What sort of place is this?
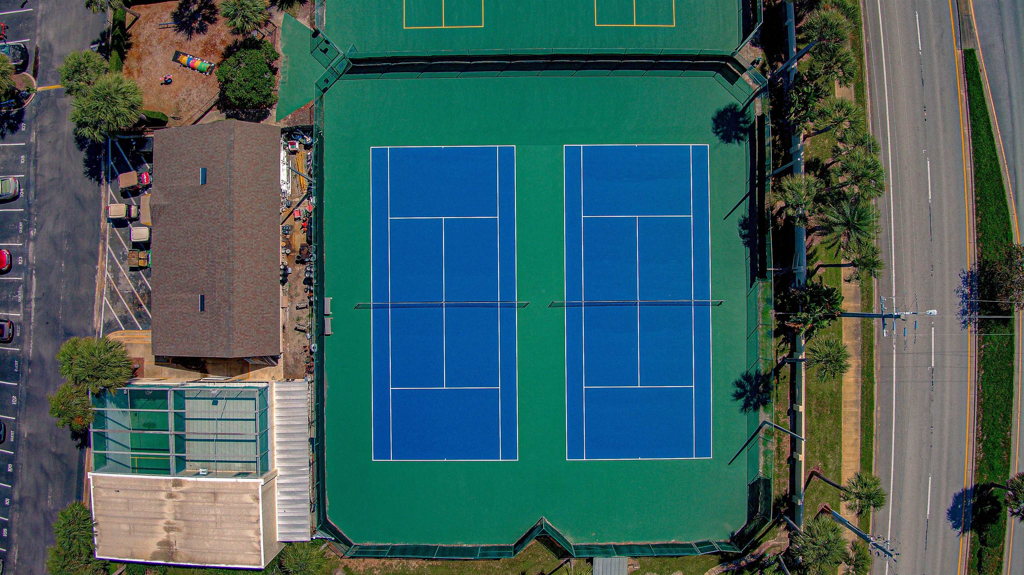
sports ground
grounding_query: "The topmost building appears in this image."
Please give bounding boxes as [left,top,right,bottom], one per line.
[149,120,283,358]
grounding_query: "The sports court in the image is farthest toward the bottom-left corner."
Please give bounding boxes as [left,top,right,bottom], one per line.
[91,378,282,478]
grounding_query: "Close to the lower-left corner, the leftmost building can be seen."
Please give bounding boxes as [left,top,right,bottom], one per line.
[85,461,279,569]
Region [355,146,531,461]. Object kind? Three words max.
tennis court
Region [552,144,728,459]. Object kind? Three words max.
tennis court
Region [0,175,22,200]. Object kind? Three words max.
car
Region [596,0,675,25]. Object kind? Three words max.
sports court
